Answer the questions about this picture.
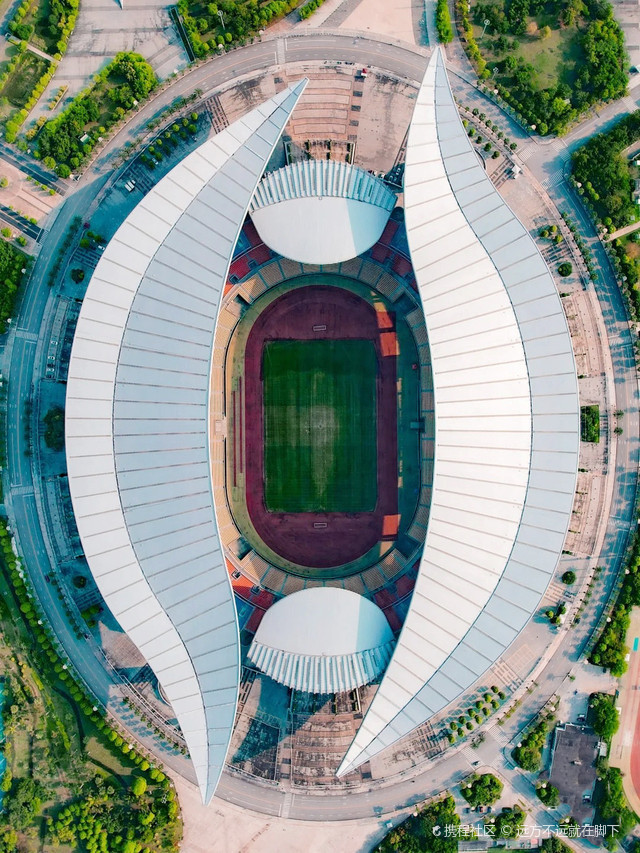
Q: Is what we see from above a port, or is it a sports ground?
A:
sports ground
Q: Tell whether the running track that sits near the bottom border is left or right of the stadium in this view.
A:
to the right of it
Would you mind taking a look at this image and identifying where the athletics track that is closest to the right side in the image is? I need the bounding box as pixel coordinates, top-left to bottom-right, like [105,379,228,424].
[609,603,640,828]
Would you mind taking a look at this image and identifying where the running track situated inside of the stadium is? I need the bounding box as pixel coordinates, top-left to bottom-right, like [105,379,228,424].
[245,285,398,566]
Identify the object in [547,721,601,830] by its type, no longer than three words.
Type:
building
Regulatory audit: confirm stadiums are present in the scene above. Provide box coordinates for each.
[65,47,580,806]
